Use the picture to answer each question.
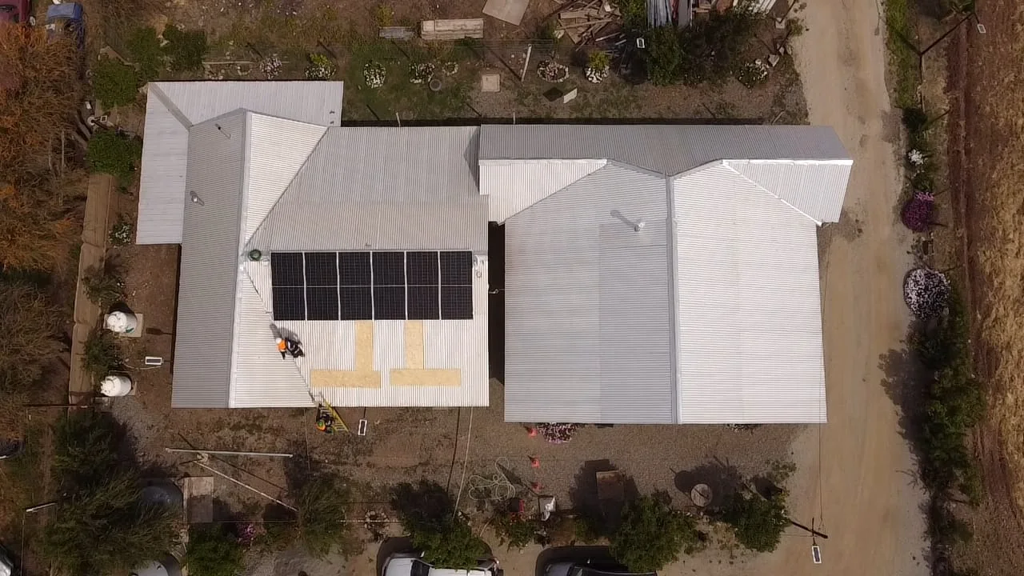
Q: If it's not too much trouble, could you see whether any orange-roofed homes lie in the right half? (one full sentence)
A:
No, there's no orange-roofed home to be seen in the right half.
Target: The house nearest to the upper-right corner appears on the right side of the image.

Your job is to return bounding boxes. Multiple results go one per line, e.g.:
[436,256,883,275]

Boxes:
[479,125,853,423]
